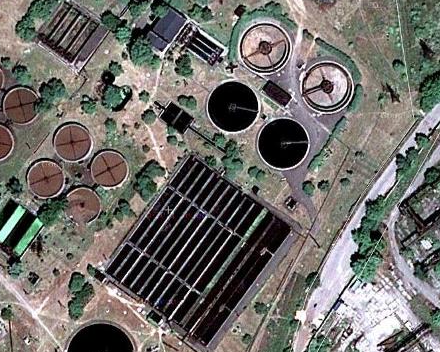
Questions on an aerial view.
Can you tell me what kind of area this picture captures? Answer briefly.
industrial area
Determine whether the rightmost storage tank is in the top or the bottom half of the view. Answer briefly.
top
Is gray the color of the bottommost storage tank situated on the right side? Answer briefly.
No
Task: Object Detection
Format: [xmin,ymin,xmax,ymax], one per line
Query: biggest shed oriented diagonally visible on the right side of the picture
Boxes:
[263,80,291,106]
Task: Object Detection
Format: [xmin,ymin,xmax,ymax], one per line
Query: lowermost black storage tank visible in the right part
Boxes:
[257,117,312,170]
